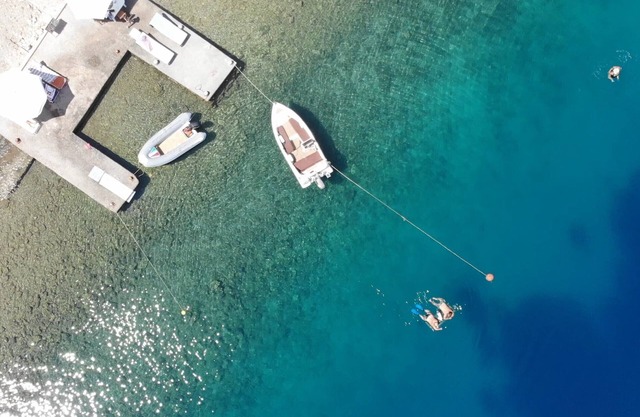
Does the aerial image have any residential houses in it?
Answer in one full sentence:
No, I can see no residential house in this picture.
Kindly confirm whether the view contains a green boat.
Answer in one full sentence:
No, there appears to be no green boat in this shot.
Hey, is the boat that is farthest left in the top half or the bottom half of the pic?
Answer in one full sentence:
The boat that is farthest left sits in the top half of the picture.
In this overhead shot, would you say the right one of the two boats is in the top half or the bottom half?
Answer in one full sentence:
The right one of the two boats sits in the top half of the picture.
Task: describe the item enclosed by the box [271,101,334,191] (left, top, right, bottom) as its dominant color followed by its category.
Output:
white boat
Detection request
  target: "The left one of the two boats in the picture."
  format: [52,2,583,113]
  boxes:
[139,112,208,166]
